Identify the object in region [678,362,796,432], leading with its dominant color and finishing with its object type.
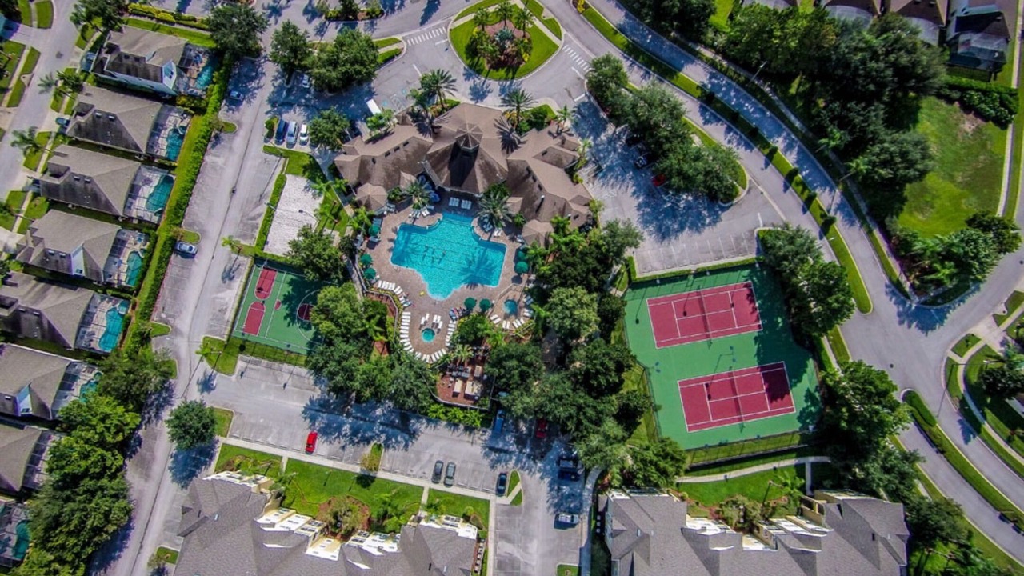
red tennis court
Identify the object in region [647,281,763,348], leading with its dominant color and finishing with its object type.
red tennis court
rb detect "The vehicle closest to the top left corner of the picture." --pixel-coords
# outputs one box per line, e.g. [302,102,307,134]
[76,49,93,72]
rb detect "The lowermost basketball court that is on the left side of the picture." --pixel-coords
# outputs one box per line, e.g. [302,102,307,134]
[235,265,341,354]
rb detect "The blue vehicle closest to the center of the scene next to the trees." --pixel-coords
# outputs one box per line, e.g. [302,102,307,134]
[492,409,505,437]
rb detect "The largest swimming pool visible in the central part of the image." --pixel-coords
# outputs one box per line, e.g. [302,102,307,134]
[391,212,507,301]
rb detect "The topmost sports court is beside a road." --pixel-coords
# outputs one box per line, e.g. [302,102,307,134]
[264,174,322,256]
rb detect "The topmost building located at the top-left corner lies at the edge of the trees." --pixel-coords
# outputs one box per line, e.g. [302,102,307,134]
[92,32,200,95]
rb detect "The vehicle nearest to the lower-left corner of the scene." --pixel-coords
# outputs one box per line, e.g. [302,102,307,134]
[304,432,316,454]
